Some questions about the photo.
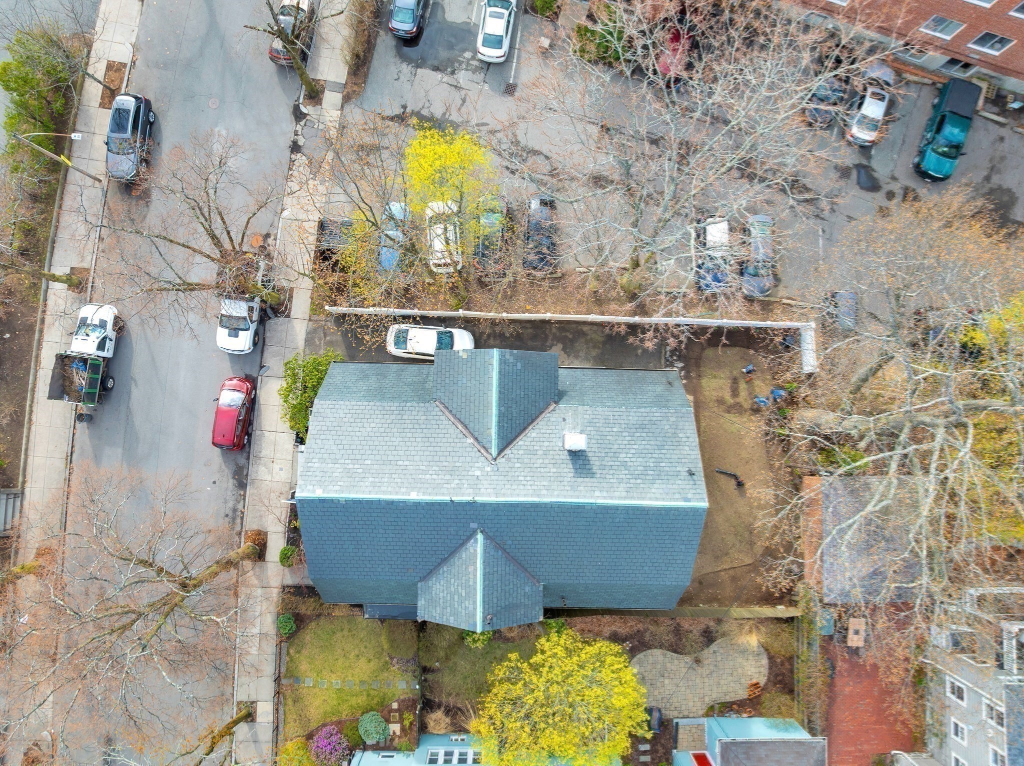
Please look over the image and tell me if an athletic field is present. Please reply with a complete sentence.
No, there's no athletic field here.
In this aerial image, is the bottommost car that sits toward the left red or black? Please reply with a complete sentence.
The color of the bottommost car that sits toward the left is red.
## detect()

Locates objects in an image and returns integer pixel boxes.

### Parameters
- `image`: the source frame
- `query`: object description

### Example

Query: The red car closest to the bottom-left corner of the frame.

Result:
[211,376,256,452]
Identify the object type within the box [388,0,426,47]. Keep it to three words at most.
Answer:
car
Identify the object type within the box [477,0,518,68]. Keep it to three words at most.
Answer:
car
